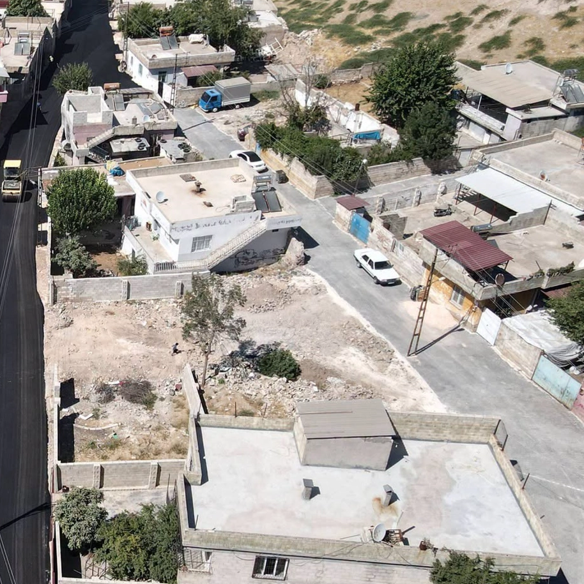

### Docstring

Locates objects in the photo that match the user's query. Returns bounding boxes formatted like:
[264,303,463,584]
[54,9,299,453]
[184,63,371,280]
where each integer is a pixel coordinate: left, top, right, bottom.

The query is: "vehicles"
[199,79,258,110]
[435,205,456,217]
[0,163,24,206]
[228,151,272,172]
[350,249,405,283]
